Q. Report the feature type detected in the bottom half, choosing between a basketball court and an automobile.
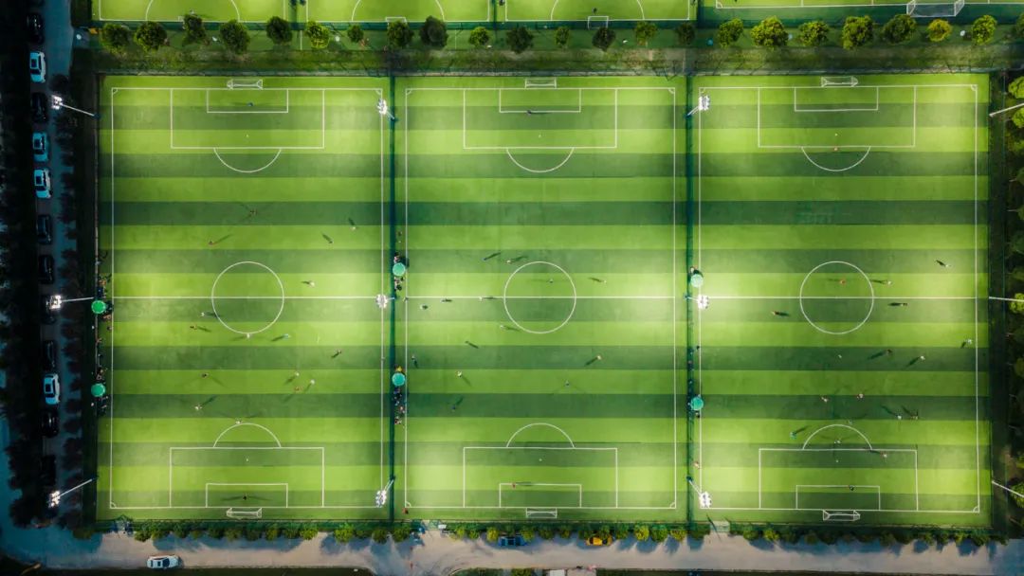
automobile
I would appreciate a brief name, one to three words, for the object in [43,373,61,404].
car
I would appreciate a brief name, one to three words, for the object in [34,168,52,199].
car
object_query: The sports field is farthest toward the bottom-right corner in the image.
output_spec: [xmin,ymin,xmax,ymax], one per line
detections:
[692,74,992,527]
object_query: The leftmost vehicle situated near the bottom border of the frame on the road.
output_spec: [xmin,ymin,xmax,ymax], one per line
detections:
[147,553,181,570]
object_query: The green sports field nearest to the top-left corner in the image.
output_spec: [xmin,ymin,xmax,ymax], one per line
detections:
[93,0,295,28]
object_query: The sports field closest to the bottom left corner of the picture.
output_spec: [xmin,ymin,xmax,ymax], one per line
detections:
[97,76,388,521]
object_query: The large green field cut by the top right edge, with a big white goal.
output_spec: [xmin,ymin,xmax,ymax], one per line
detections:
[701,0,1024,28]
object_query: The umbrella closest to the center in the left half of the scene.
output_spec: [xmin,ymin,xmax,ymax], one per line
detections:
[392,262,405,276]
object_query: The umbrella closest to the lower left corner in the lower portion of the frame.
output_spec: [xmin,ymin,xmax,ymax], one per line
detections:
[92,383,108,397]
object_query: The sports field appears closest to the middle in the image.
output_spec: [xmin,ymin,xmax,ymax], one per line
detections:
[394,76,687,521]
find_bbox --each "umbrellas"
[392,373,405,386]
[690,273,704,287]
[92,383,108,397]
[92,300,109,314]
[392,262,405,276]
[690,397,704,411]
